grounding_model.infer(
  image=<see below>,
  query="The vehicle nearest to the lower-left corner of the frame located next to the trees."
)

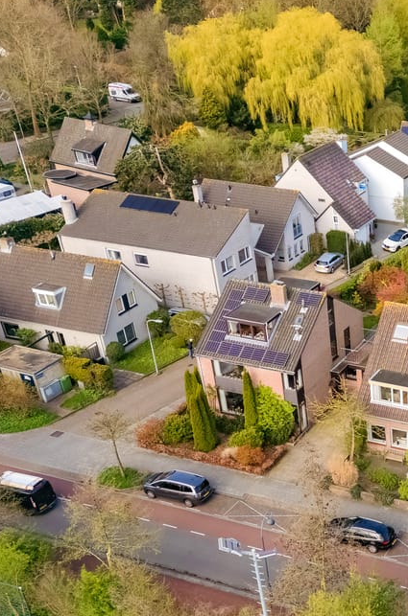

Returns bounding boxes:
[0,468,53,513]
